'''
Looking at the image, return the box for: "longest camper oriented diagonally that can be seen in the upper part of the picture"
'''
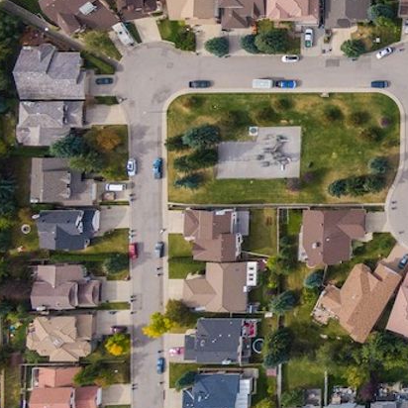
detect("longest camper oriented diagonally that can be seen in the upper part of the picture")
[112,20,138,48]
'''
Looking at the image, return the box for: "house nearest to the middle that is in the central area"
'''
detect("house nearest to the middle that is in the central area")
[184,209,250,261]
